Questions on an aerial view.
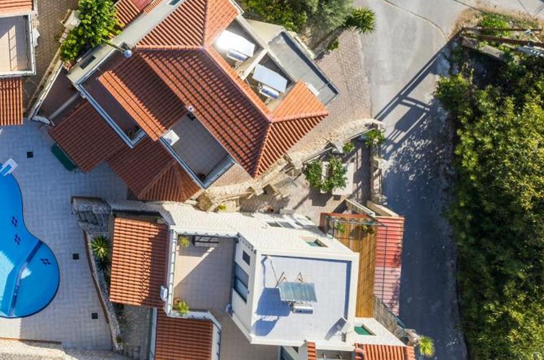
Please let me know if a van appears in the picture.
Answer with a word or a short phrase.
No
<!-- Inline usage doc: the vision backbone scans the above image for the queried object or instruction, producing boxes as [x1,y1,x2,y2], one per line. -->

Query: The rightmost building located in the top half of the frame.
[43,0,338,204]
